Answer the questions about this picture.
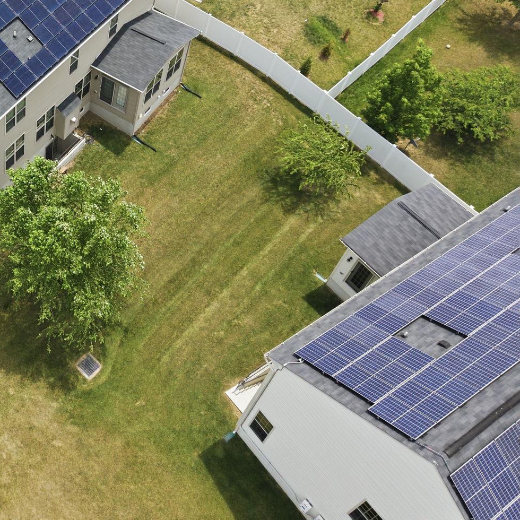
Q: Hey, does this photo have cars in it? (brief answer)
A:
No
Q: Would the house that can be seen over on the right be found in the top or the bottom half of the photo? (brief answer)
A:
bottom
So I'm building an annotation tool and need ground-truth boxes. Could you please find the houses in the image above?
[225,183,520,520]
[0,0,198,189]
